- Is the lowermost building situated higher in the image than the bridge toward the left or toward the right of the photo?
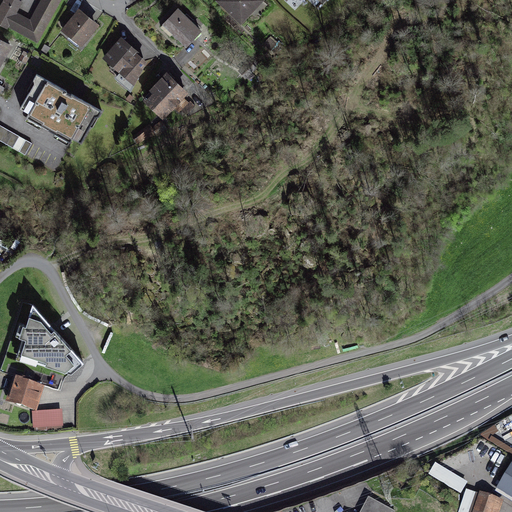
left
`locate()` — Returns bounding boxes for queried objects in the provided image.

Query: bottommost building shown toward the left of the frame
[32,408,63,429]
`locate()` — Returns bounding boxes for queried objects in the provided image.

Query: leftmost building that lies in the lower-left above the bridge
[6,374,44,412]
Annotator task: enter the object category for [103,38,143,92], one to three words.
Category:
house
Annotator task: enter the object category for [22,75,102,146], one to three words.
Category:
building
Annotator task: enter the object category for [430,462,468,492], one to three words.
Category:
building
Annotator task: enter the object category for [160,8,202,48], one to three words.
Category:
house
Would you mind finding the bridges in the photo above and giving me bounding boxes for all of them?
[0,440,207,512]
